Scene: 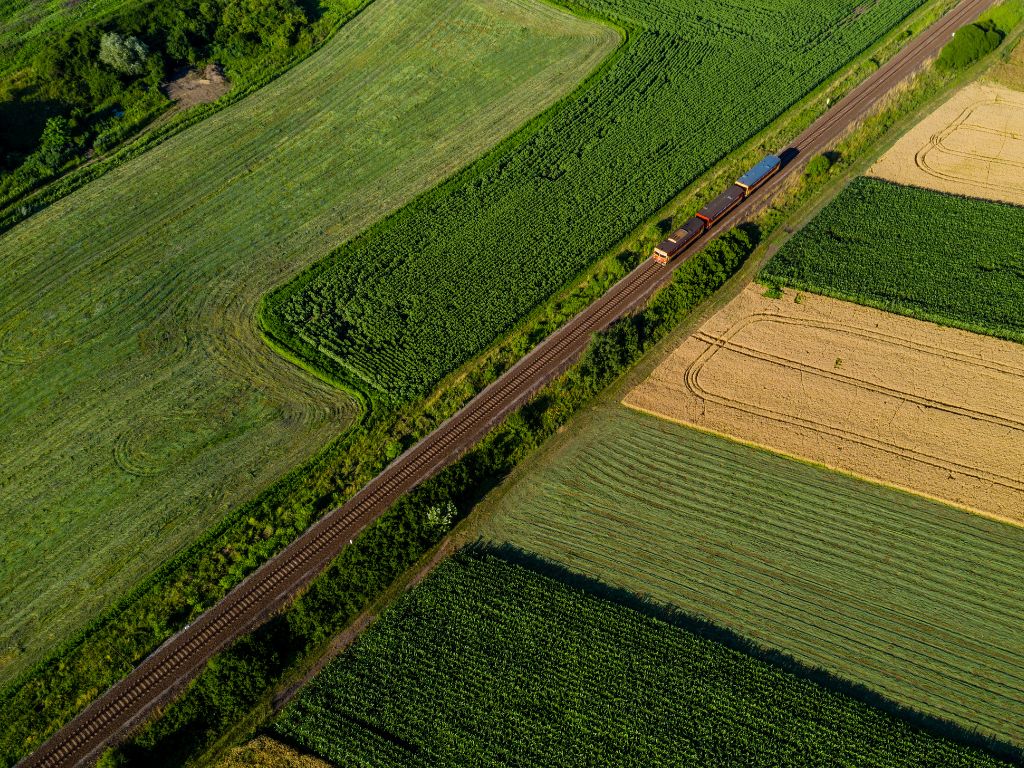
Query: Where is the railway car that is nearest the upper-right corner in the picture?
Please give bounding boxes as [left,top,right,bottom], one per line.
[736,154,781,197]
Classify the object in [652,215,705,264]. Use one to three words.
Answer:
rail car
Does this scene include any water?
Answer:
No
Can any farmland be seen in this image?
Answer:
Yes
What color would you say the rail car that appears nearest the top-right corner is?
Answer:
blue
